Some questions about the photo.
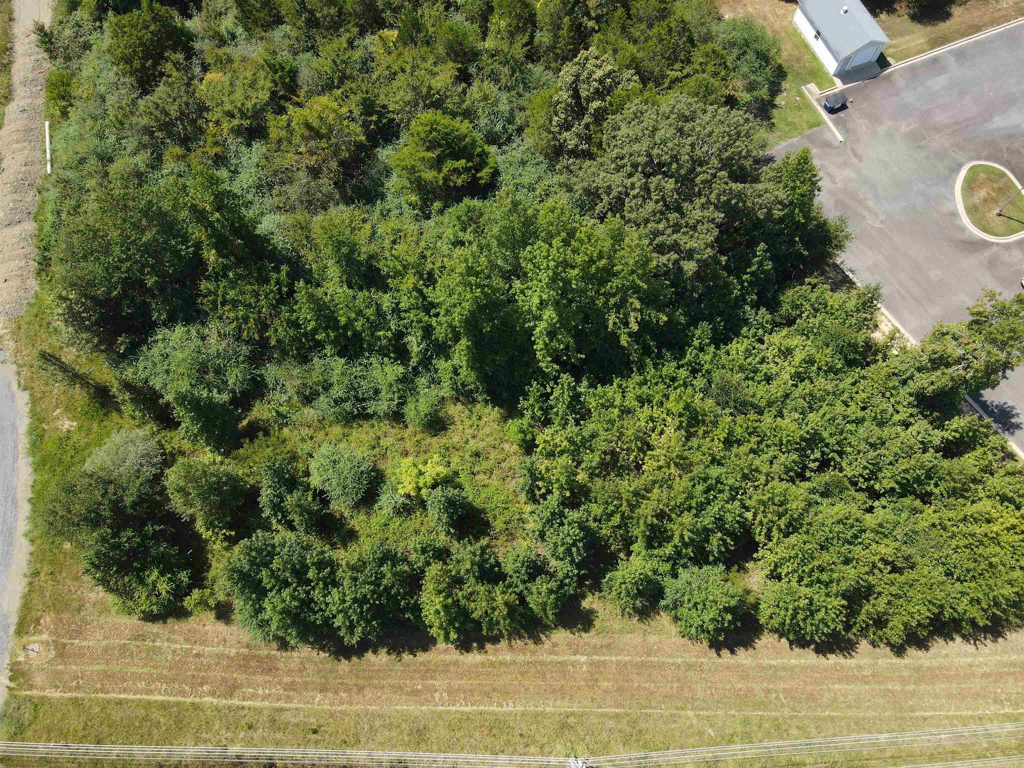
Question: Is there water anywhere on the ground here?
No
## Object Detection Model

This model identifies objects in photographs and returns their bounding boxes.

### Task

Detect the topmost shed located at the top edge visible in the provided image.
[788,0,893,76]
